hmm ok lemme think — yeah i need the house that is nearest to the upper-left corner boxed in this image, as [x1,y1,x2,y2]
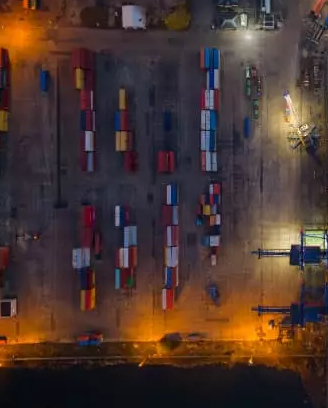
[122,3,147,28]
